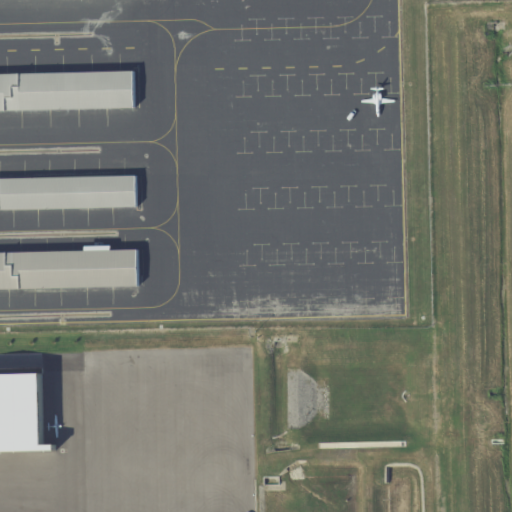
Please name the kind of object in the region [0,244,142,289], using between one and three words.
hangar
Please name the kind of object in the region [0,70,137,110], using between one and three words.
hangar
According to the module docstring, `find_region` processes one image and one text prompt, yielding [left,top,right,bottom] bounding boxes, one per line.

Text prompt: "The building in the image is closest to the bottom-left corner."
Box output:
[0,368,57,452]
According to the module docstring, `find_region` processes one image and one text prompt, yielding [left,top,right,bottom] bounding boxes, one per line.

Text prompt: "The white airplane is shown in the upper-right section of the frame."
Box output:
[362,88,395,118]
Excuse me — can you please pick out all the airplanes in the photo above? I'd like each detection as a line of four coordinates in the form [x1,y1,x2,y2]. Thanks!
[49,416,63,438]
[362,88,395,118]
